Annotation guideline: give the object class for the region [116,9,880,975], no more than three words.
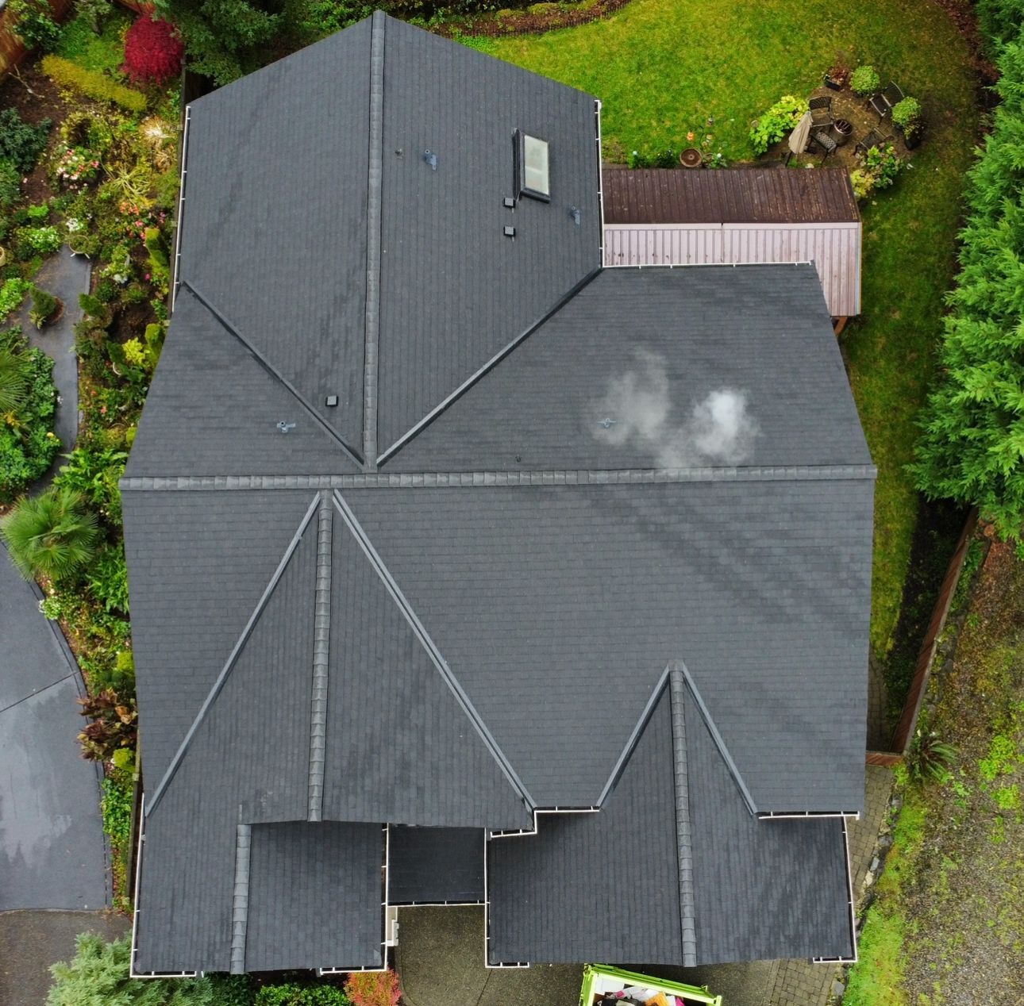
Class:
house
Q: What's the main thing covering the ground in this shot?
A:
buildings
